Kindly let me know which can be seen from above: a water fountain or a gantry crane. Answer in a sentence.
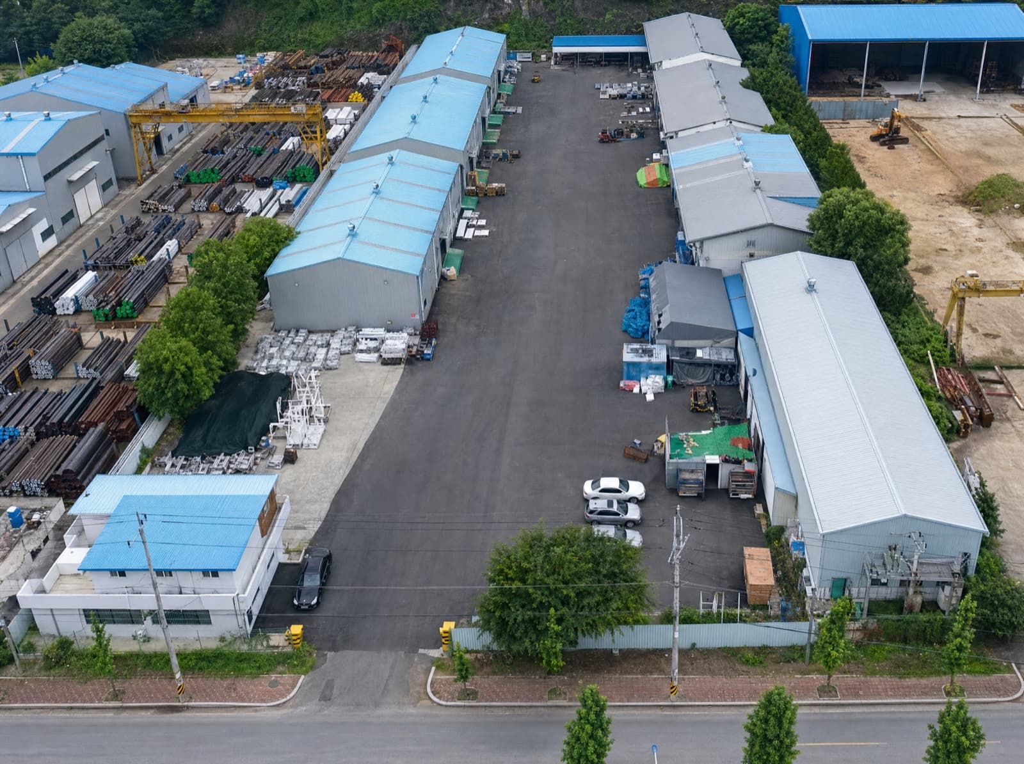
There is a gantry crane in the scene.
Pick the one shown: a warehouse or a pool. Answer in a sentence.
There is a warehouse in the scene.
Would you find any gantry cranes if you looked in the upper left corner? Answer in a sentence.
Yes, in the upper left corner there is a gantry crane.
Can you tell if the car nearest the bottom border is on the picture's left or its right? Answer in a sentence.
You can find the car nearest the bottom border on the left side of the picture.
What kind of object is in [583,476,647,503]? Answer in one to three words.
car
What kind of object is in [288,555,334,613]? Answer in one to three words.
car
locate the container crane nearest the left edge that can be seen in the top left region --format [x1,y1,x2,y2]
[120,95,319,187]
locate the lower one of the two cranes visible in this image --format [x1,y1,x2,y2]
[938,269,1024,385]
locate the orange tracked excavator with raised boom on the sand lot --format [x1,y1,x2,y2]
[871,107,908,148]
